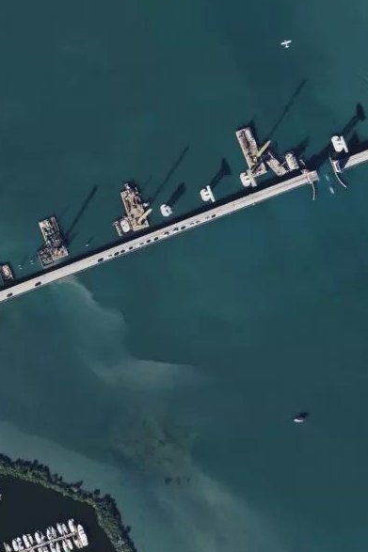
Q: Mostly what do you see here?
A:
water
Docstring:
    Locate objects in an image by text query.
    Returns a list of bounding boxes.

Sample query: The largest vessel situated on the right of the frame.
[236,127,267,174]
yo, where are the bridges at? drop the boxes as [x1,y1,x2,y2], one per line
[0,148,368,301]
